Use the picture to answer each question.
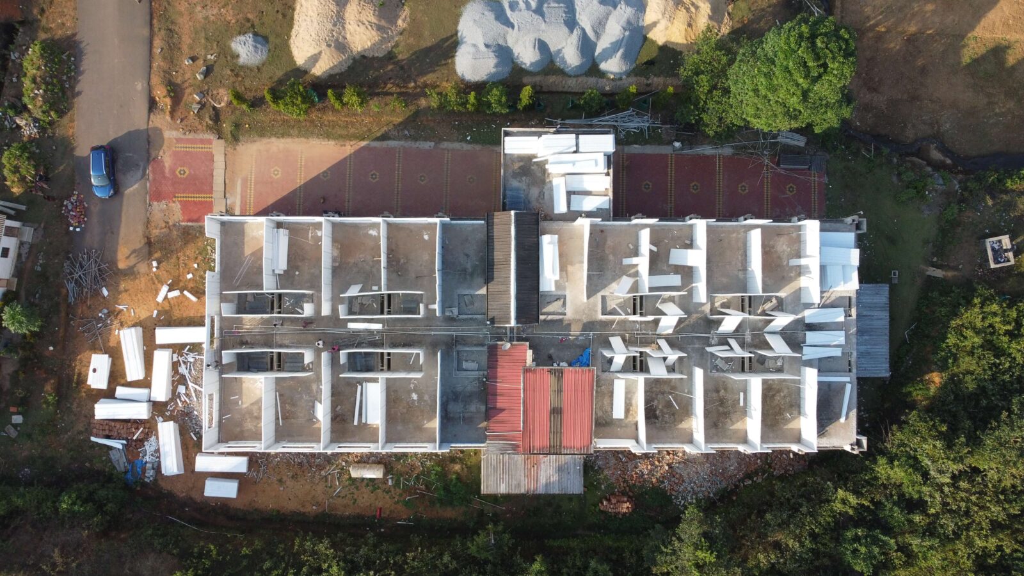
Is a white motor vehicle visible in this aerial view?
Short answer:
No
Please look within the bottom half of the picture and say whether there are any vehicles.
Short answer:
No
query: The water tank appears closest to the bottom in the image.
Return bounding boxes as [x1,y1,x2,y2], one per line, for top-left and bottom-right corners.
[351,463,384,479]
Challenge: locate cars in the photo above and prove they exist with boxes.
[89,146,119,198]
